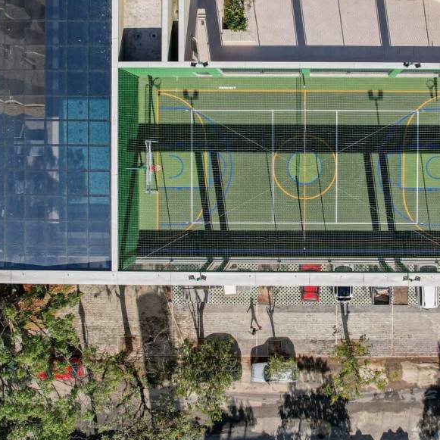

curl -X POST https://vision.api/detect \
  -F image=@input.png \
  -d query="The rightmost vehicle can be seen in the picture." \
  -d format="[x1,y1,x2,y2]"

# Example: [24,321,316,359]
[413,286,436,303]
